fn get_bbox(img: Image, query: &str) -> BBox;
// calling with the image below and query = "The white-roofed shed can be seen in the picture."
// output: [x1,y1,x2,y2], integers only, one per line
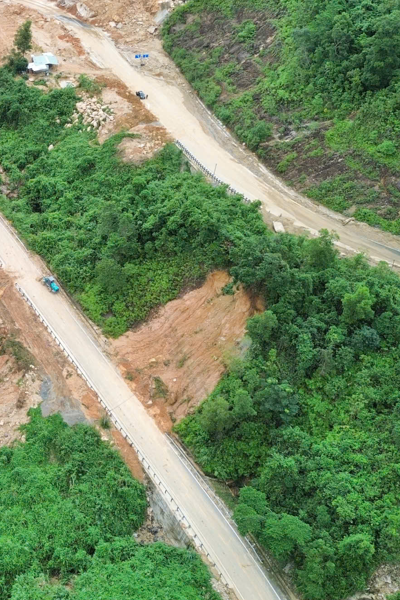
[28,52,59,73]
